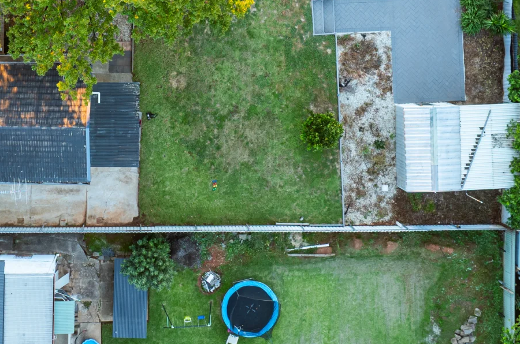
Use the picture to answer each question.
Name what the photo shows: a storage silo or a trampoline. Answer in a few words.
trampoline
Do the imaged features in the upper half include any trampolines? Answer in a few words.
No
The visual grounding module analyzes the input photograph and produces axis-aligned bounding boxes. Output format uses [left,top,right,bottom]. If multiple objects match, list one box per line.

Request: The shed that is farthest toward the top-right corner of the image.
[395,102,519,203]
